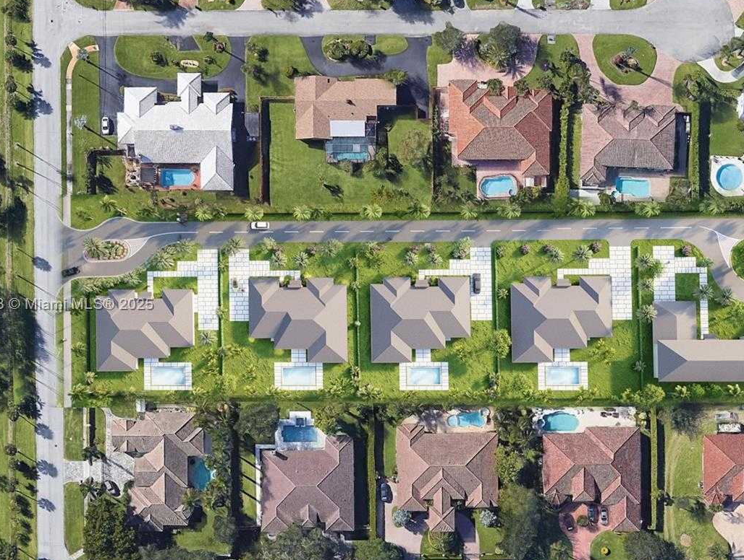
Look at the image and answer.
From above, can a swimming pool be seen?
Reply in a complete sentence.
Yes, there is a swimming pool in the image.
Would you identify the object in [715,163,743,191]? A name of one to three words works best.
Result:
swimming pool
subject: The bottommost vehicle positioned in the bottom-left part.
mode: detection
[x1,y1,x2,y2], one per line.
[106,480,119,497]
